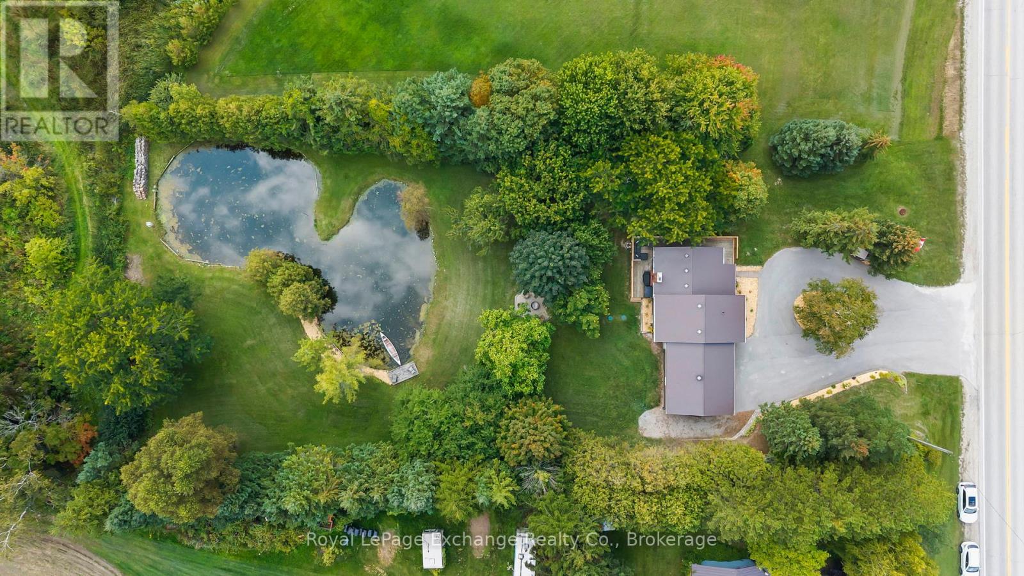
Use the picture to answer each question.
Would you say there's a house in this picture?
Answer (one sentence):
Yes, I can see a house in this picture.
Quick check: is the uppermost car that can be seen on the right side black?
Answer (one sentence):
No, from above the uppermost car that can be seen on the right side looks white.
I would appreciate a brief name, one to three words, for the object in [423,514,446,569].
trailer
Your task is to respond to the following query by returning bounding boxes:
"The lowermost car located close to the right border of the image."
[959,543,982,576]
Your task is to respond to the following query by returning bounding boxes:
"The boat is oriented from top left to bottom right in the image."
[380,331,401,366]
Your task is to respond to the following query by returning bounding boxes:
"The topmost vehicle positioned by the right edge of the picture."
[957,484,980,523]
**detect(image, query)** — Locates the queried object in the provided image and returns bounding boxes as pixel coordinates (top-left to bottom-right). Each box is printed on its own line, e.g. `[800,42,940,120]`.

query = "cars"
[959,543,982,576]
[957,484,980,523]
